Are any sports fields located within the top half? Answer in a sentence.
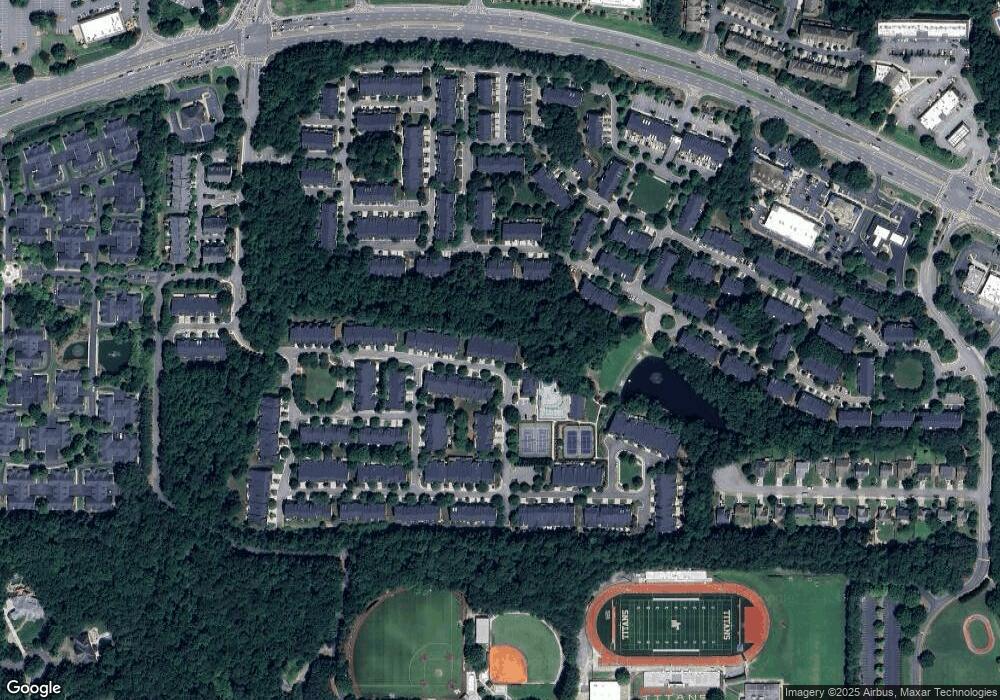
No, looking within the top half, there is no sports field.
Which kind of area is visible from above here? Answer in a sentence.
This image shows a residential area.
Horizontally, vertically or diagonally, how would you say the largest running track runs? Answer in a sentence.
From this overhead view, the largest running track appears to run horizontally.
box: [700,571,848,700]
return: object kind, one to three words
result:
sports field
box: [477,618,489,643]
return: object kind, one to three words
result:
building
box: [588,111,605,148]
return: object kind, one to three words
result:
house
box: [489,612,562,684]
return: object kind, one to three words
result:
baseball field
